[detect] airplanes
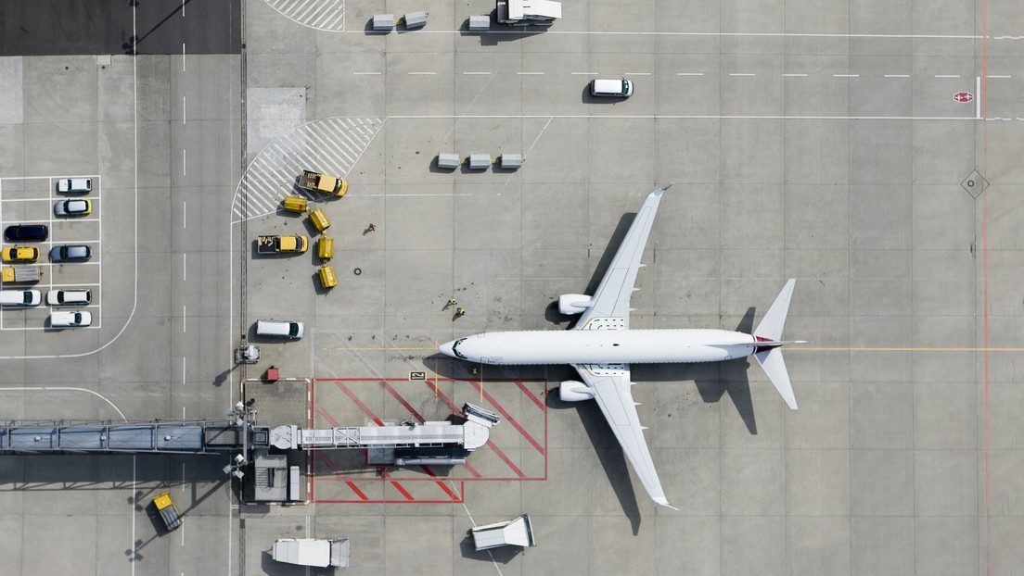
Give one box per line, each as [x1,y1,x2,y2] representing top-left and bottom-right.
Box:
[438,182,809,508]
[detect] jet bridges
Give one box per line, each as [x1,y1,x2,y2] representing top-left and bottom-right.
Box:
[269,402,503,465]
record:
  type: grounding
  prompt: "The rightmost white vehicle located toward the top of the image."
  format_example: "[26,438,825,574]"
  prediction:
[590,77,634,97]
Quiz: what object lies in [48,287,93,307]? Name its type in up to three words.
car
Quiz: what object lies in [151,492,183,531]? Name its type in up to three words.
work vehicle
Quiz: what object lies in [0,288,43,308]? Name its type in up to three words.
vehicle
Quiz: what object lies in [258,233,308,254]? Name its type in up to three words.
truck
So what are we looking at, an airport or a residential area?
airport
